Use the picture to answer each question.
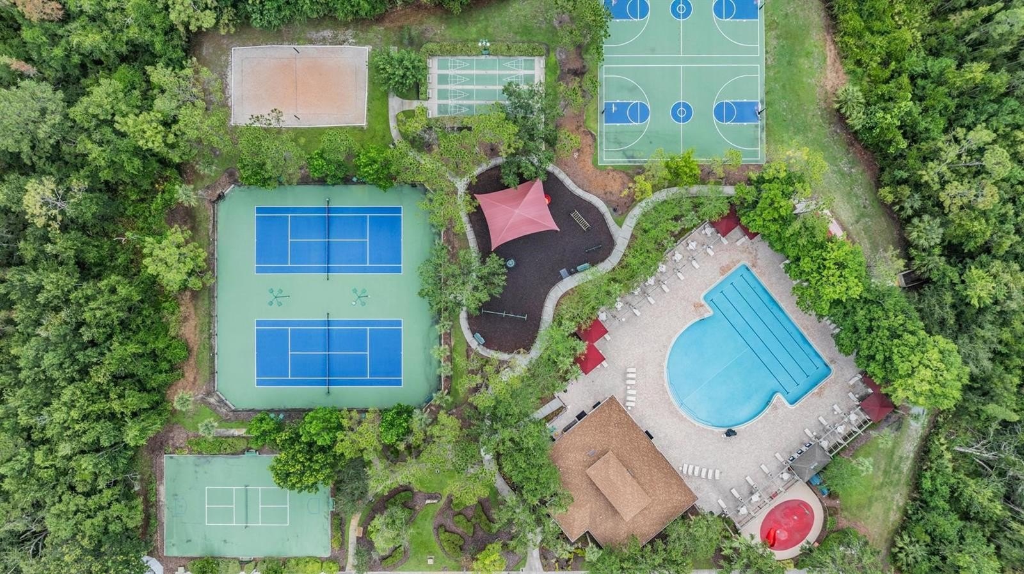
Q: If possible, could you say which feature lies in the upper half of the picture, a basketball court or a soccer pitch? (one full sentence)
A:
Visible in the upper half of the picture is a basketball court.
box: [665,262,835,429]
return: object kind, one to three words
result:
swimming pool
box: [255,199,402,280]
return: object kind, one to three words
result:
tennis court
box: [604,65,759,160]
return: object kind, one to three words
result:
basketball court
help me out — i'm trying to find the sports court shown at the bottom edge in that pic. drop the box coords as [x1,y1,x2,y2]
[164,455,331,557]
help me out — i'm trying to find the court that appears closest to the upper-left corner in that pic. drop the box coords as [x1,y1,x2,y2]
[231,45,368,127]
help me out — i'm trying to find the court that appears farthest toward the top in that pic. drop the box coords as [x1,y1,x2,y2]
[604,0,759,56]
